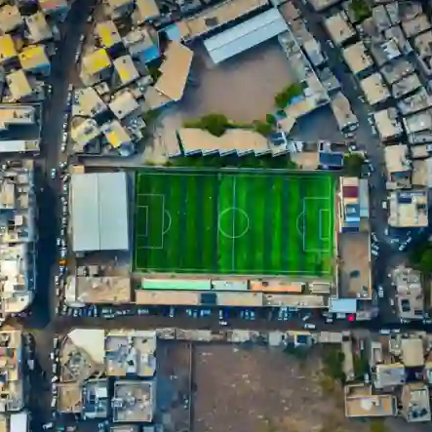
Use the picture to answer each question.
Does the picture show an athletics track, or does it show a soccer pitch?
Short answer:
soccer pitch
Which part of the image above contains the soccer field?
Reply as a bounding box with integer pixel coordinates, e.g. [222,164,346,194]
[132,168,334,278]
